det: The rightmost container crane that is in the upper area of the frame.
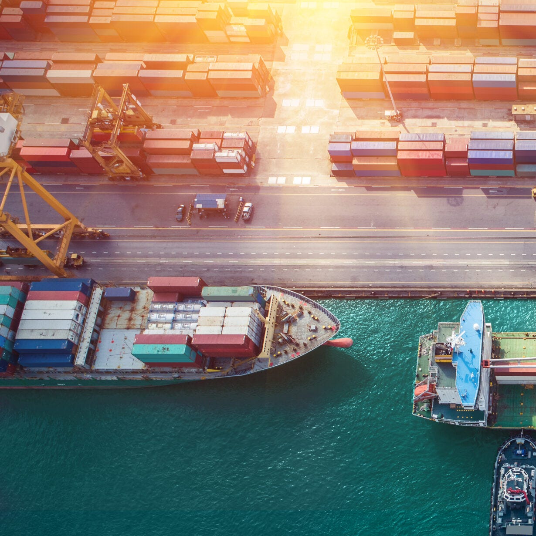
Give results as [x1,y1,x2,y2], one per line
[82,77,165,183]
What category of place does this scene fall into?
port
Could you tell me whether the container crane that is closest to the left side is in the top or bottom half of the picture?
top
